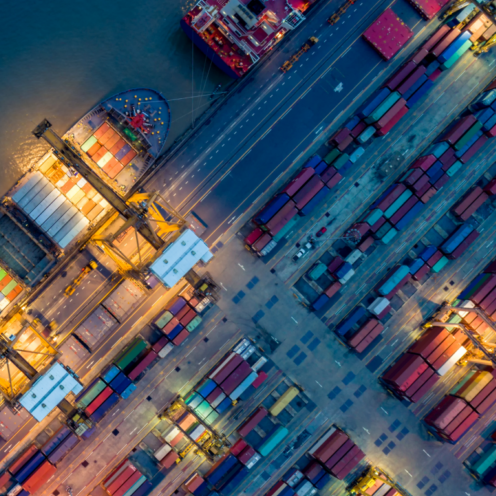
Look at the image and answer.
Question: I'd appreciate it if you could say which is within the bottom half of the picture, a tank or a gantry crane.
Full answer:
What appears within the bottom half of the picture is a gantry crane.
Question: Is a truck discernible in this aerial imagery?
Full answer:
Yes, looking at the shot, I can spot a truck.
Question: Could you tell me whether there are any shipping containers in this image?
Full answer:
Yes, looking at the shot, I can spot a shipping container.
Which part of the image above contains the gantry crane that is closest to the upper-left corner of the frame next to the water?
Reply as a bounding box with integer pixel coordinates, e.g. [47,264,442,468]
[31,117,222,303]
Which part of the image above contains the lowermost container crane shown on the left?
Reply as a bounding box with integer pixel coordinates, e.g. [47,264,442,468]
[157,395,233,468]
